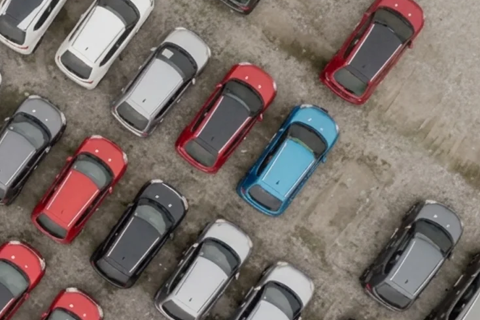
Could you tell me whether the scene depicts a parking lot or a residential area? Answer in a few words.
parking lot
